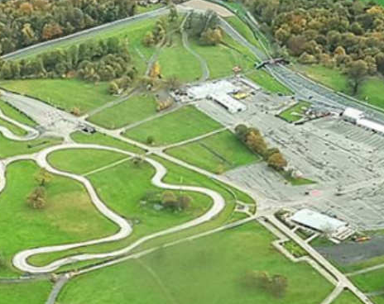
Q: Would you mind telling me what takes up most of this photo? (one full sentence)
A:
Most of the picture is covered by grass.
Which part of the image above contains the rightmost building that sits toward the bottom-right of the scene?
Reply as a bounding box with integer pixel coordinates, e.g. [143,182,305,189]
[290,210,350,240]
